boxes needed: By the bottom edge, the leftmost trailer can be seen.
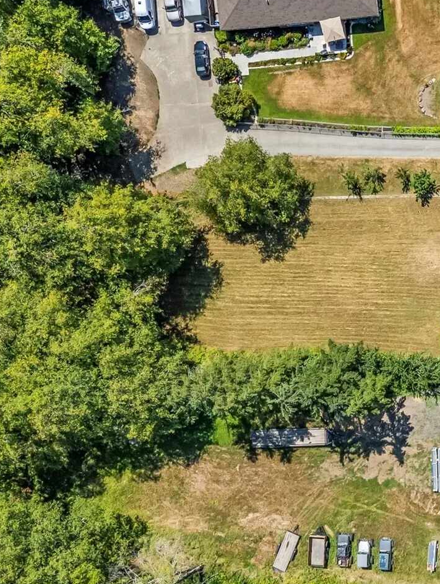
[272,524,303,575]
